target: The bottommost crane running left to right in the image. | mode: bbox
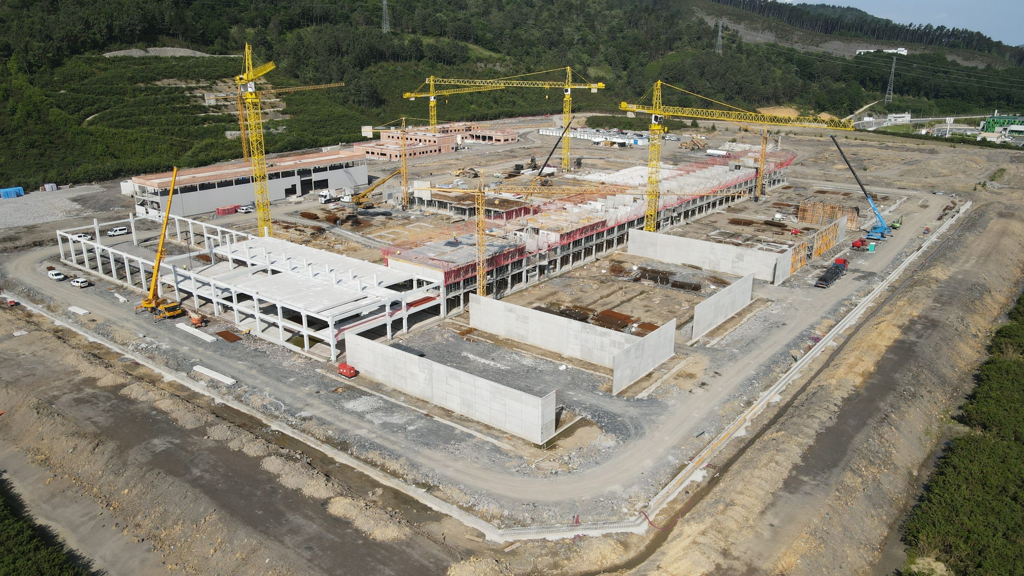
[416,169,752,298]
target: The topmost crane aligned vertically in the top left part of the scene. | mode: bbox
[244,43,283,240]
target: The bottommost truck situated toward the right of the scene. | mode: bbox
[825,259,851,287]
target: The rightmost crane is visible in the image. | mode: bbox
[829,136,898,242]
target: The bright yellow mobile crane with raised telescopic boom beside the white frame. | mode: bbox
[129,166,192,320]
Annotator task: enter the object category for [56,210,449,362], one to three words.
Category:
building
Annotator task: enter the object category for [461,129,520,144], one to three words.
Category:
building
